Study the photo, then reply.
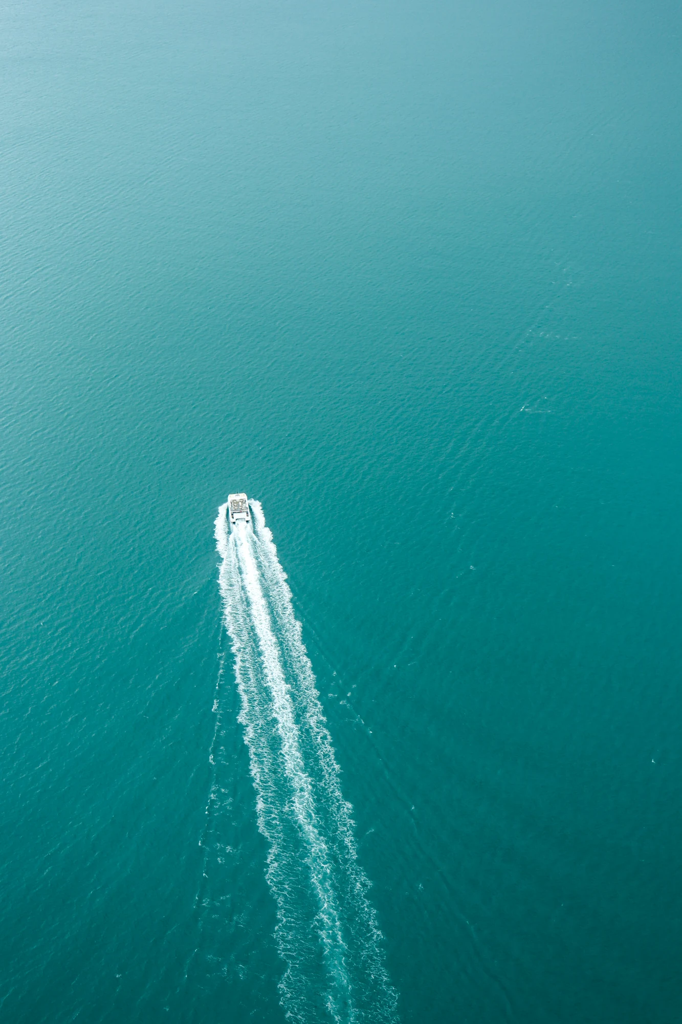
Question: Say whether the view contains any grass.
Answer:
No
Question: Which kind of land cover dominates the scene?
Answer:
water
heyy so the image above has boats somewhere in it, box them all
[230,491,250,523]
